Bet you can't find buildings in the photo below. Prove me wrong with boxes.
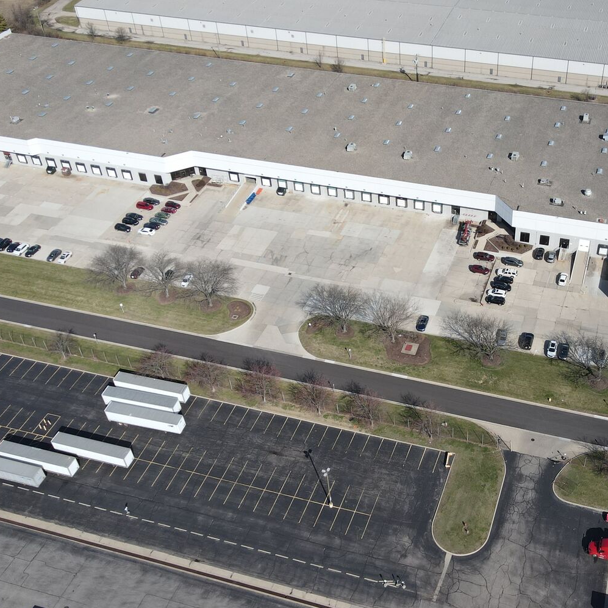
[0,26,608,293]
[73,0,608,85]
